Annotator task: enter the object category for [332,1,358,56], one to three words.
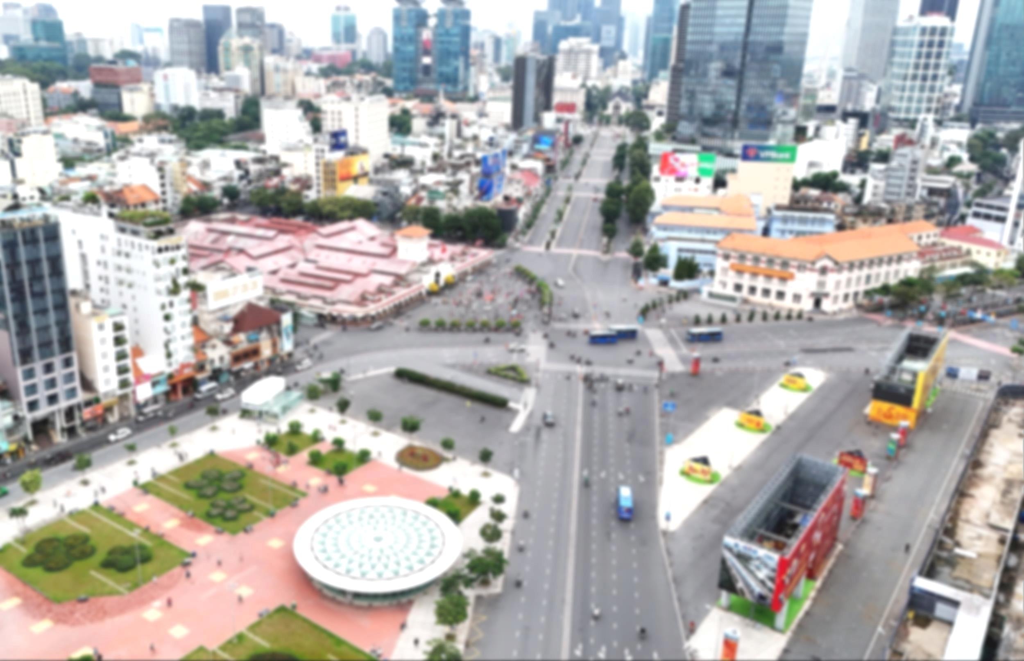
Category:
building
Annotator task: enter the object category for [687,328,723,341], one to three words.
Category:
vehicle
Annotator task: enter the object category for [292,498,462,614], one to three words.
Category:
building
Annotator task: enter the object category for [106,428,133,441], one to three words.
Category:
vehicle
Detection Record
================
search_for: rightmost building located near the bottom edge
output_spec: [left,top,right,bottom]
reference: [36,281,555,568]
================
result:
[706,453,847,638]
